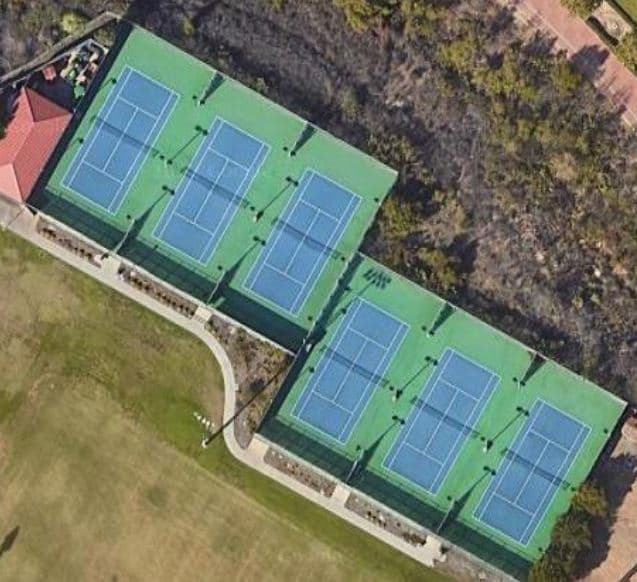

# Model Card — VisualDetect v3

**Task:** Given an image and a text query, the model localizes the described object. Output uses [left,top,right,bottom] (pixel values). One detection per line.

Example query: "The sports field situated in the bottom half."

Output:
[0,229,457,582]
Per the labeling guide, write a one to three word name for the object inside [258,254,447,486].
tennis court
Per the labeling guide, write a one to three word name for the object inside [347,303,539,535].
tennis court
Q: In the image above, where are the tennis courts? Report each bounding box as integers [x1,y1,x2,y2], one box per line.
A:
[347,303,539,535]
[437,354,627,582]
[29,23,217,256]
[207,123,398,356]
[116,73,309,306]
[258,254,447,486]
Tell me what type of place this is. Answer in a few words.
sports ground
